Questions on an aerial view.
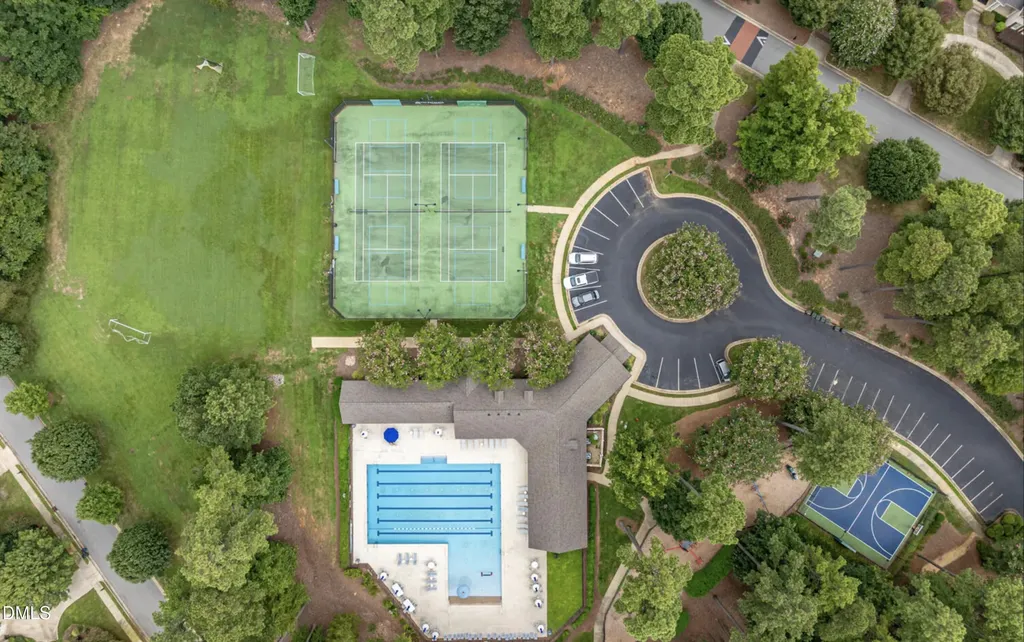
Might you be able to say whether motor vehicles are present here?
Yes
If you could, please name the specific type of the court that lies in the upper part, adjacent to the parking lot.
tennis court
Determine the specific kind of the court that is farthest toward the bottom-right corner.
basketball court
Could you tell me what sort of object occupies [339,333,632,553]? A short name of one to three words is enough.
building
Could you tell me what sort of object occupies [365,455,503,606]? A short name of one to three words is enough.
swimming pool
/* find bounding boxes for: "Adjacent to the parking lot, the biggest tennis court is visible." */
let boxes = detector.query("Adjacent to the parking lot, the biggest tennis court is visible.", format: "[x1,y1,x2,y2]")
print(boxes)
[333,105,526,318]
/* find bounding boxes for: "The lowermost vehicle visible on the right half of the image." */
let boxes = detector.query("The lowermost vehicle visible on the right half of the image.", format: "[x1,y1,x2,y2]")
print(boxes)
[715,357,733,384]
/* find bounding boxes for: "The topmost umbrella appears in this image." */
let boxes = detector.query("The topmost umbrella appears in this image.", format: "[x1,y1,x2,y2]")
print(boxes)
[384,427,399,442]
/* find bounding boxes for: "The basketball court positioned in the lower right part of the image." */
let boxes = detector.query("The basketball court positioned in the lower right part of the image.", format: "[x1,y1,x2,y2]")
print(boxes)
[797,453,935,568]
